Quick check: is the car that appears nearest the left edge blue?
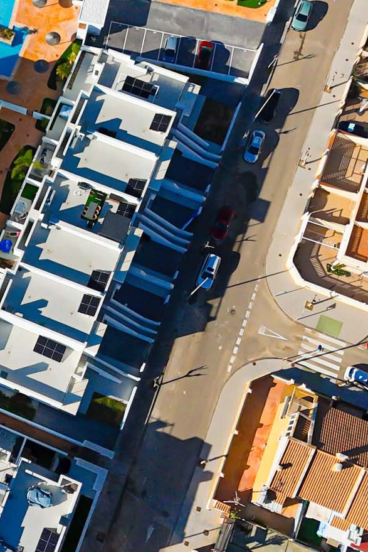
Yes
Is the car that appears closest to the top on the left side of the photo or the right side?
right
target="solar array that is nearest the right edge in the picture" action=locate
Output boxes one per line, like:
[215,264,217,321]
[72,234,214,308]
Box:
[146,111,169,132]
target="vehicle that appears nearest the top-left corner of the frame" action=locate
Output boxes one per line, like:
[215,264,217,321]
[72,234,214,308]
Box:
[161,35,181,67]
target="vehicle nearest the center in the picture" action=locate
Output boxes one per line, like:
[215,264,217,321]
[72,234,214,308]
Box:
[194,252,222,293]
